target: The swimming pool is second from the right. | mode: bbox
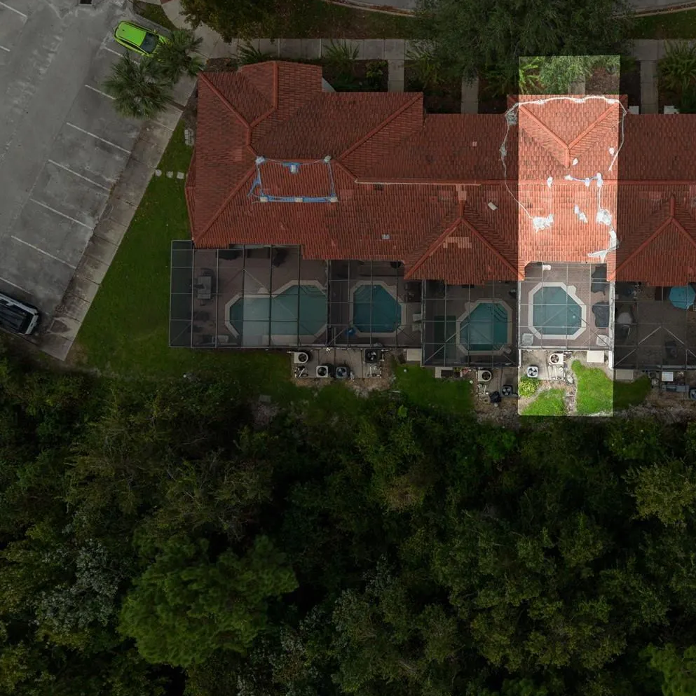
[456,300,513,356]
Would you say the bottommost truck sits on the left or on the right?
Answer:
left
